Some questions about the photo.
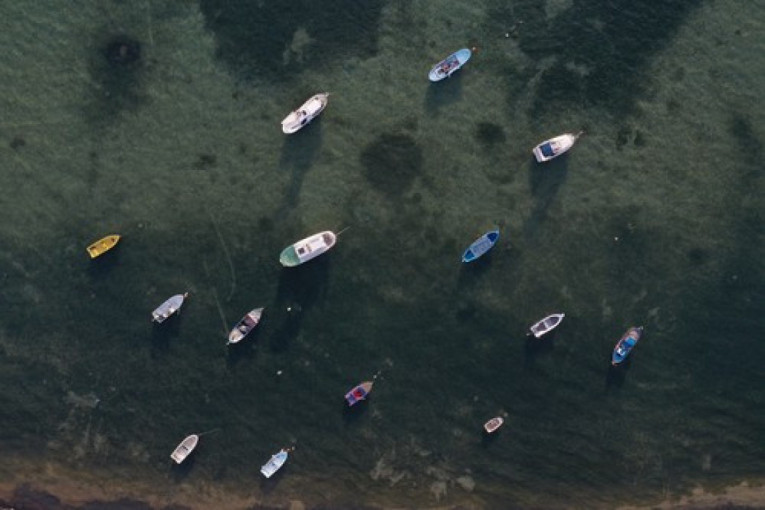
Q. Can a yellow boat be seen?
Yes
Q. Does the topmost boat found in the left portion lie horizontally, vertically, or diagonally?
diagonally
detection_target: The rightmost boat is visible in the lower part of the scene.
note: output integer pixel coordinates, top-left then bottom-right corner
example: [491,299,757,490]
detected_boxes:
[613,329,642,364]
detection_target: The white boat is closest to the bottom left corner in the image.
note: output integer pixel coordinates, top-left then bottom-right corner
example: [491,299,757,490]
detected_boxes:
[171,435,199,463]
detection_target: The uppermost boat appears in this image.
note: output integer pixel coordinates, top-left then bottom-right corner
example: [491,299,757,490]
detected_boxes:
[428,48,471,81]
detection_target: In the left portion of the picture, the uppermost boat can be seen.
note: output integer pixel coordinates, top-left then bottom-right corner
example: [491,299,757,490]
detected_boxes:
[279,91,331,137]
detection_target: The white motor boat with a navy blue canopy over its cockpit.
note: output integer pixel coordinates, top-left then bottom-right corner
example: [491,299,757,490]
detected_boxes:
[529,132,583,163]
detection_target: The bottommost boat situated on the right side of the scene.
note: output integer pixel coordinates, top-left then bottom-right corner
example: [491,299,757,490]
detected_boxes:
[486,417,504,432]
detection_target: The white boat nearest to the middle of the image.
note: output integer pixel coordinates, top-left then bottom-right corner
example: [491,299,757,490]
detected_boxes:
[278,233,336,267]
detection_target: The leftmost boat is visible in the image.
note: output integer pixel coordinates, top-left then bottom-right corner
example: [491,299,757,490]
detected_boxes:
[87,235,122,258]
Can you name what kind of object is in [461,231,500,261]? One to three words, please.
boat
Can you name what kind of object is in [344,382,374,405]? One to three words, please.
boat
